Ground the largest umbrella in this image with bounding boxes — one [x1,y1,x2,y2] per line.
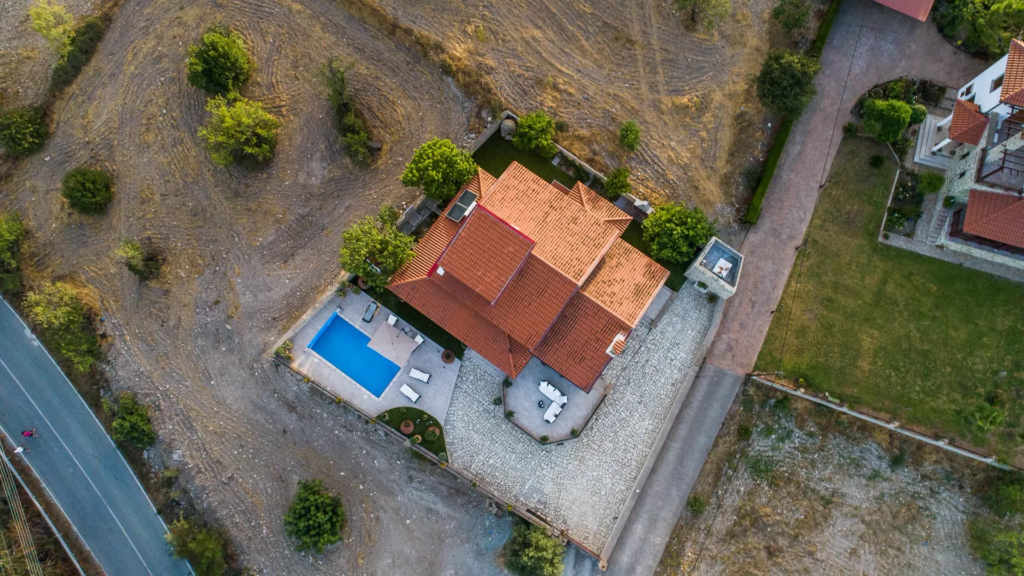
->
[368,321,419,367]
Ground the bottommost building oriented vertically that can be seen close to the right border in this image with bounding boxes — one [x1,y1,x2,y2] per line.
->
[915,38,1024,273]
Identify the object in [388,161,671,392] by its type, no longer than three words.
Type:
house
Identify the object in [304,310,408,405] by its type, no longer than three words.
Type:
swimming pool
